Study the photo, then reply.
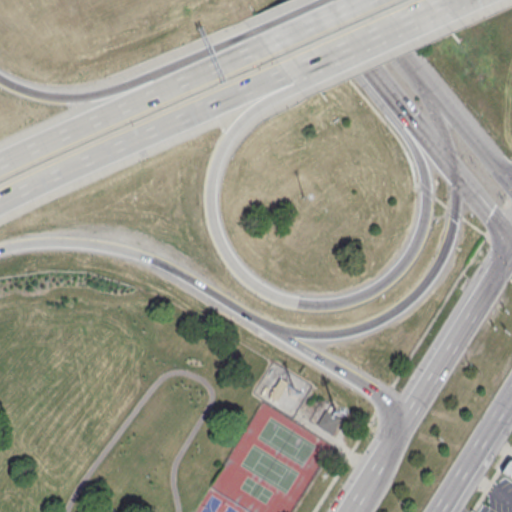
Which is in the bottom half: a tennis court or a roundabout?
tennis court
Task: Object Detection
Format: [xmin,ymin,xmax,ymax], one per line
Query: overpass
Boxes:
[248,0,450,100]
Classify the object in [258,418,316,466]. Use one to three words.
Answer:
tennis court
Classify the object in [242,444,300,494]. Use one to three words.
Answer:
tennis court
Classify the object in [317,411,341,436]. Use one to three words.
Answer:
building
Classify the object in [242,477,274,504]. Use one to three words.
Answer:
sports court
